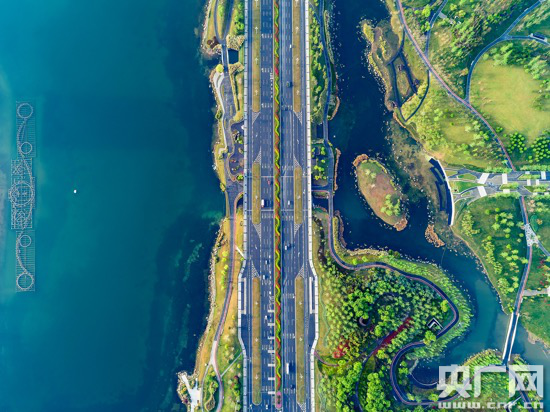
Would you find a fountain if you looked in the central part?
No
